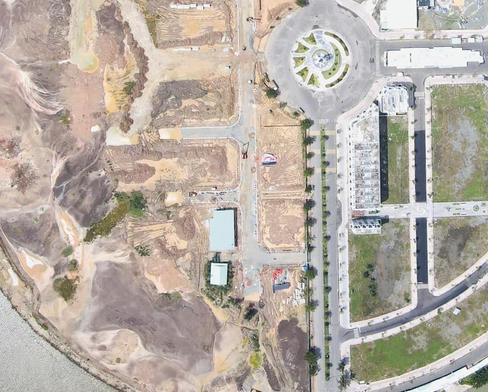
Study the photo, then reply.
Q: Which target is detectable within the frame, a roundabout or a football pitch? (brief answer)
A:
roundabout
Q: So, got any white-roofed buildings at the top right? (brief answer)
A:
Yes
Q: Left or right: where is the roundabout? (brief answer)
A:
right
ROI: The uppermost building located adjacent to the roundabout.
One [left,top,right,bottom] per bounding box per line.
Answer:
[379,0,417,28]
